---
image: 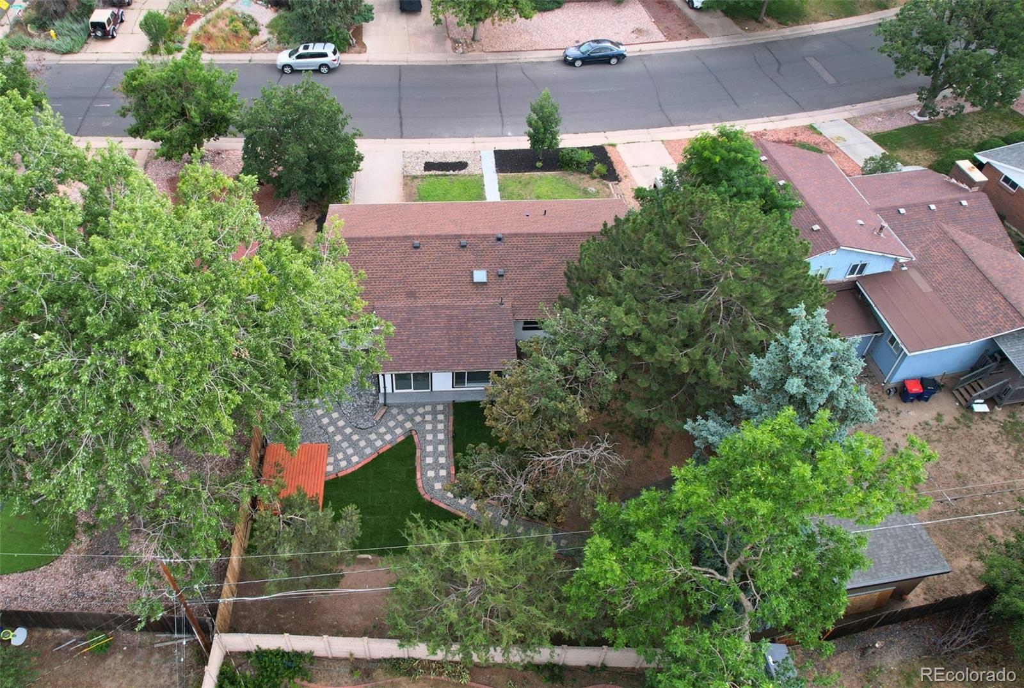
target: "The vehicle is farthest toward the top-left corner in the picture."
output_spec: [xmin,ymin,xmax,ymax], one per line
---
[89,4,130,34]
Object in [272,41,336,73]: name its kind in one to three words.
car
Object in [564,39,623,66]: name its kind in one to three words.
car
